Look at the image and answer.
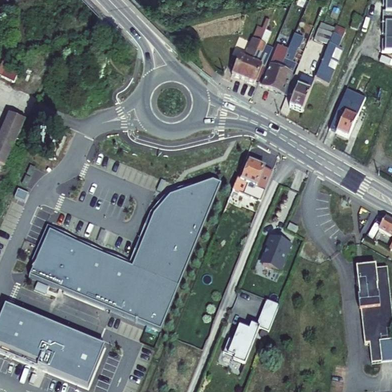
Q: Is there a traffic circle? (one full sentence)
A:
Yes, the frame does contain a traffic circle.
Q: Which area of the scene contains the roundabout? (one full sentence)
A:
The roundabout is in the top part of the image.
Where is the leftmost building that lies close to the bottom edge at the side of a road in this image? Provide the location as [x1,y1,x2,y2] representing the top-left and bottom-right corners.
[0,301,108,390]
